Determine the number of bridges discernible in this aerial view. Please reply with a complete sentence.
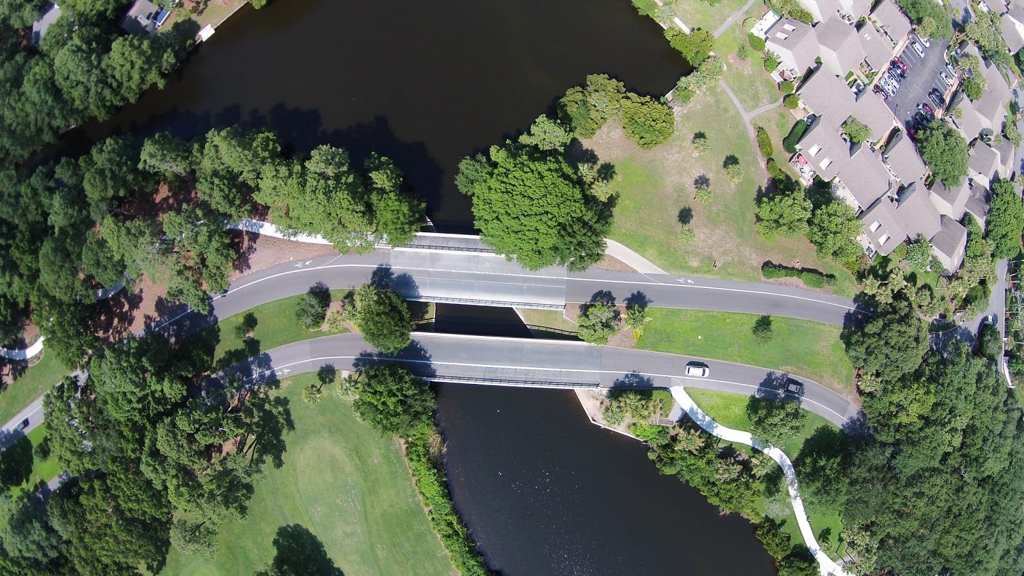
I count 2 bridges.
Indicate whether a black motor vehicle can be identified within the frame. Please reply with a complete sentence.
Yes, a black motor vehicle appears in the view.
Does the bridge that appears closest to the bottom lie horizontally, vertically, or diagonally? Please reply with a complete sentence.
What the image shows is the bridge that appears closest to the bottom lying horizontally.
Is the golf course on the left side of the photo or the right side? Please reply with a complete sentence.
You can find the golf course on the left side of the picture.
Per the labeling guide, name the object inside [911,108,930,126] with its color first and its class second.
black car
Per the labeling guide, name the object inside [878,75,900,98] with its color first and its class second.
white car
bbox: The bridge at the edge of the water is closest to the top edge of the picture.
[380,234,605,310]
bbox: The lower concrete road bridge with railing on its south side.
[409,332,602,390]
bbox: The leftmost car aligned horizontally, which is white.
[685,364,710,376]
